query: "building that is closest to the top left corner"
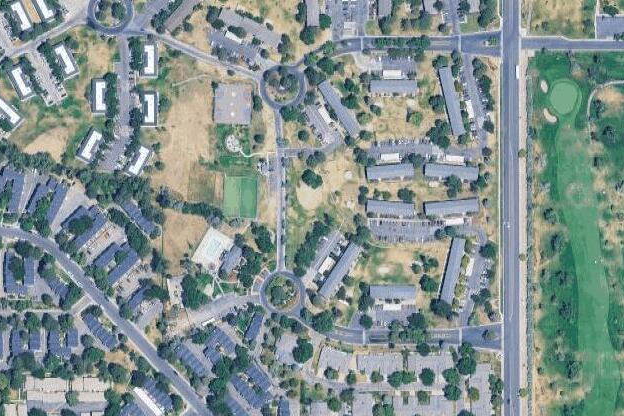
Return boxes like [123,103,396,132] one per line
[8,0,33,31]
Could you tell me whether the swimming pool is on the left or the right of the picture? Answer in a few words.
left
